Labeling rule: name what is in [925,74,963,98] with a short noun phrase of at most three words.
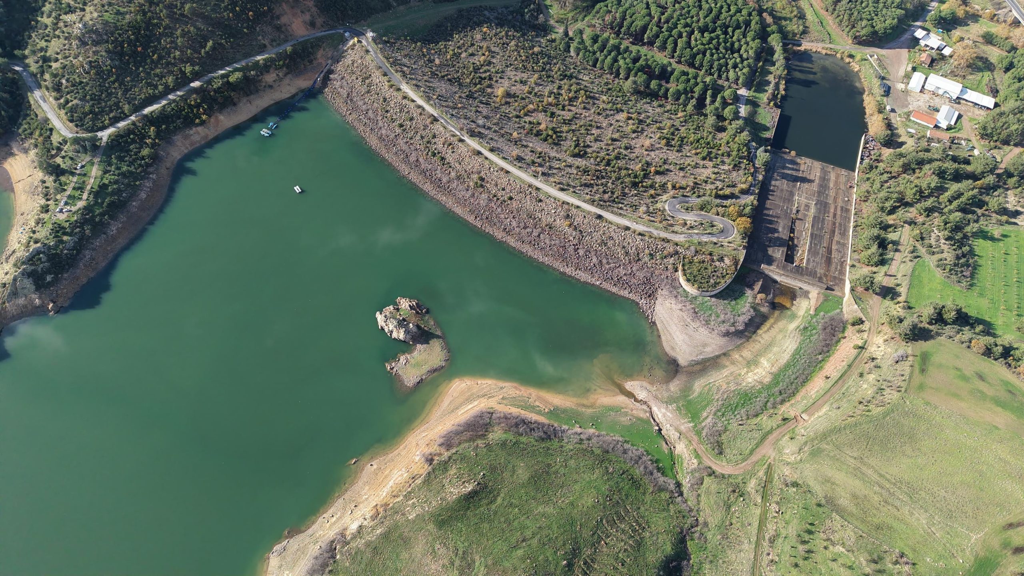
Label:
barn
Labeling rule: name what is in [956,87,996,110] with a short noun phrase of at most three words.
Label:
shed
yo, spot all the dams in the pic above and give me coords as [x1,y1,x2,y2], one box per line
[321,20,752,328]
